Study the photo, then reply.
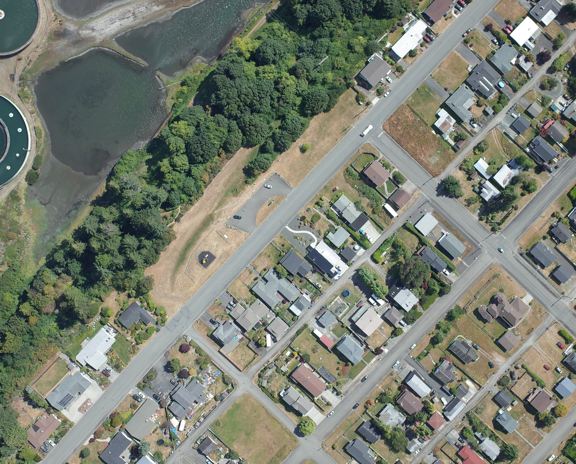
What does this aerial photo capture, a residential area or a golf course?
residential area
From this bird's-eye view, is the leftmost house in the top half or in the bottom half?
bottom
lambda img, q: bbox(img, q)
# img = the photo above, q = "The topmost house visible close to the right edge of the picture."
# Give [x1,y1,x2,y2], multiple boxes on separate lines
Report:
[526,0,560,25]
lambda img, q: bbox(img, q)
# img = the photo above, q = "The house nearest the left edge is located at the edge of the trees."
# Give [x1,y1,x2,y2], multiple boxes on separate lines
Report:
[27,413,62,448]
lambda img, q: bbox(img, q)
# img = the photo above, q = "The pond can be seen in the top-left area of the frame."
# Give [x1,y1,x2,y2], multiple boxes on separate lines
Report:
[42,0,255,174]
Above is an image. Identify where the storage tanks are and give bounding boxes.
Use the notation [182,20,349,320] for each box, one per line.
[0,93,33,188]
[0,0,44,58]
